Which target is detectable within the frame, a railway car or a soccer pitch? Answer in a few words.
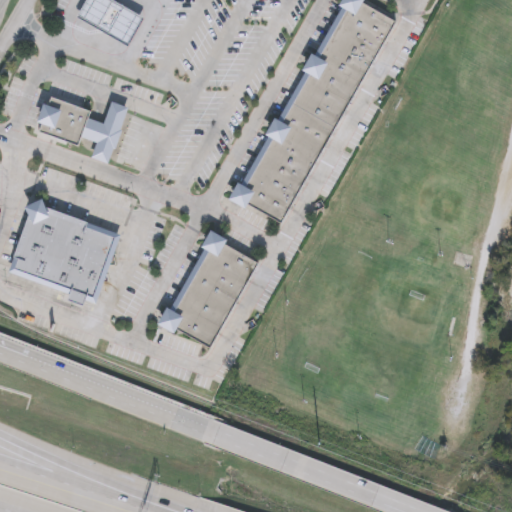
soccer pitch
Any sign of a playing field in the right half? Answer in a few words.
Yes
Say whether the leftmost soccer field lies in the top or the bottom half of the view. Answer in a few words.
bottom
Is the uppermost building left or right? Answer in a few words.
left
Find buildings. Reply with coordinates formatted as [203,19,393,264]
[78,0,144,45]
[158,231,258,346]
[8,200,120,309]
[37,97,91,144]
[229,0,396,221]
[84,102,126,164]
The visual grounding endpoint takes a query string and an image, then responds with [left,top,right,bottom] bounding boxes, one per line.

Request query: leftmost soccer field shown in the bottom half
[282,308,382,404]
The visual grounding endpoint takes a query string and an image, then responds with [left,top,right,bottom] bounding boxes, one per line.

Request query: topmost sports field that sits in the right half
[384,284,443,346]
